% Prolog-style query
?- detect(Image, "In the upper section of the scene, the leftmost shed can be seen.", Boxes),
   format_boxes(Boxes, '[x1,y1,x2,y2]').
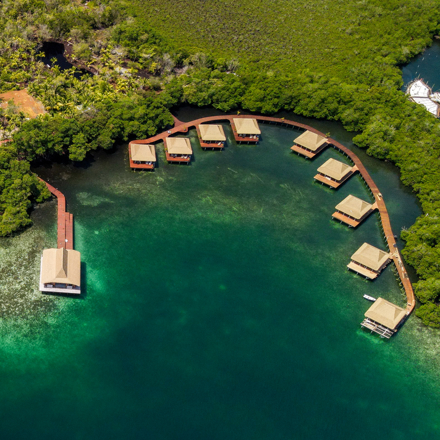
[124,147,156,172]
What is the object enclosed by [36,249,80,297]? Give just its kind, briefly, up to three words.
building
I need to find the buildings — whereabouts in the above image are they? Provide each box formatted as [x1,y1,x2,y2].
[312,160,353,191]
[36,249,80,297]
[124,147,156,172]
[288,133,327,160]
[329,197,373,229]
[160,139,192,165]
[344,243,390,281]
[192,126,226,151]
[355,298,407,342]
[227,120,261,144]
